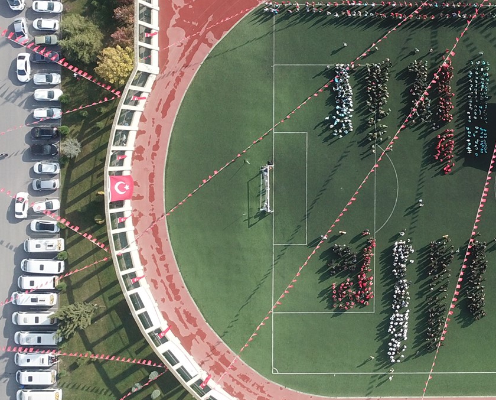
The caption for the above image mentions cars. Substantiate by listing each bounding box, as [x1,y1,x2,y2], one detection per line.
[17,53,32,82]
[34,72,62,85]
[33,89,63,102]
[31,143,60,156]
[31,219,62,234]
[13,18,32,44]
[34,162,61,175]
[33,177,61,192]
[32,0,64,14]
[31,49,62,63]
[16,192,30,218]
[33,33,60,47]
[33,106,63,120]
[33,18,60,31]
[32,126,61,140]
[33,198,62,212]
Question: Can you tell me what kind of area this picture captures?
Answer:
sports ground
